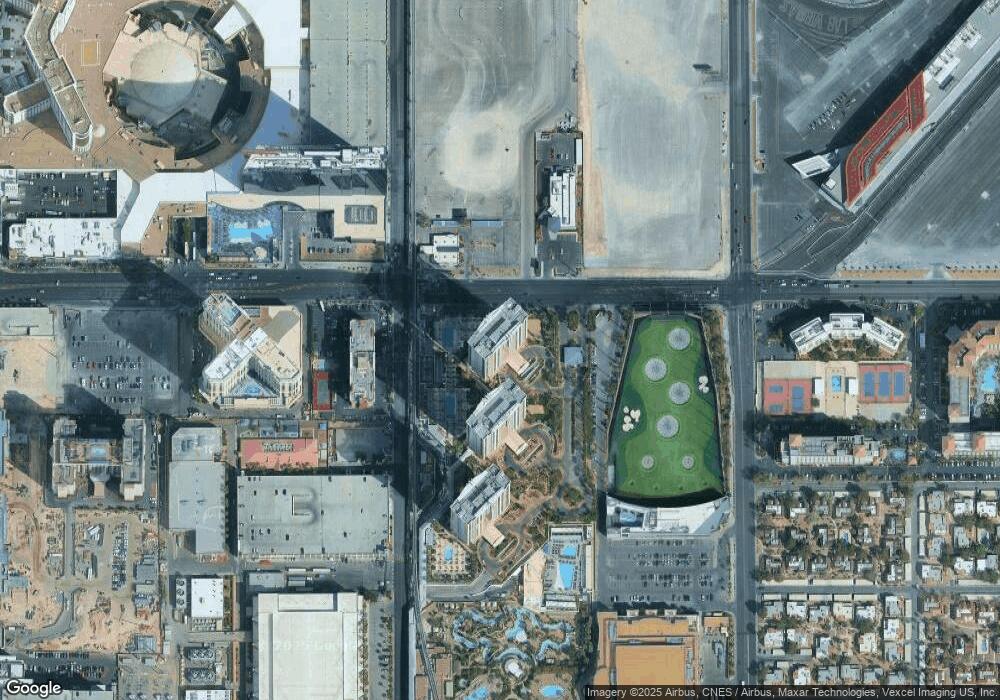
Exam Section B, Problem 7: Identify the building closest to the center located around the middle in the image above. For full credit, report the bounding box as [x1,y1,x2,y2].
[469,297,530,381]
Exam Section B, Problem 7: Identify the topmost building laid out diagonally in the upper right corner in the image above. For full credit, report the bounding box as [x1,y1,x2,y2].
[818,0,1000,215]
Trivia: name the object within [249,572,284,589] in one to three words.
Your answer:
building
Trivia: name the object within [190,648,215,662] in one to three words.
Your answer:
cooling tower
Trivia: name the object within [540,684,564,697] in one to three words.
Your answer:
swimming pool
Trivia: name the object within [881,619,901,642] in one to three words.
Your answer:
house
